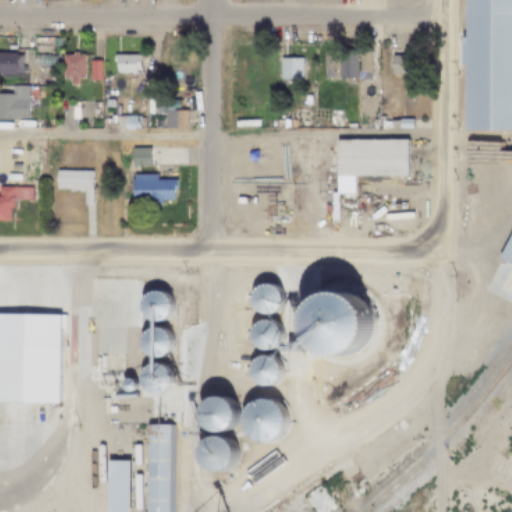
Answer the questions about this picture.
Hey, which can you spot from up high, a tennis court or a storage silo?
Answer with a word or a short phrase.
storage silo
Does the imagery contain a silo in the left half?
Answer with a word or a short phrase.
Yes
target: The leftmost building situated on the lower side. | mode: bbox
[0,314,66,403]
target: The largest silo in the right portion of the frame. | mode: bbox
[292,287,374,360]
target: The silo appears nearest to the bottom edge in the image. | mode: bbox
[195,433,241,473]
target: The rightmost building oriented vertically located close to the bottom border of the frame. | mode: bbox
[150,424,178,512]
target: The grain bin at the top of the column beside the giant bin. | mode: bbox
[251,281,289,316]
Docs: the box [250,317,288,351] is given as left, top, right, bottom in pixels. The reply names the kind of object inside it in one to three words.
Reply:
silo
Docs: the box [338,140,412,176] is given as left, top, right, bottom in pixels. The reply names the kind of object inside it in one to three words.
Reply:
building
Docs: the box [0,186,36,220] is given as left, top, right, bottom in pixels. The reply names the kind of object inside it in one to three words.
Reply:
house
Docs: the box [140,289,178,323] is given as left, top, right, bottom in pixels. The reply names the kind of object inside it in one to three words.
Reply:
silo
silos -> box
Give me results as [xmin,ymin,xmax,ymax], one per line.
[250,317,288,351]
[140,324,178,358]
[292,287,374,360]
[240,397,290,442]
[140,289,178,323]
[195,433,241,473]
[196,394,242,434]
[140,360,178,394]
[250,353,288,388]
[251,281,289,316]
